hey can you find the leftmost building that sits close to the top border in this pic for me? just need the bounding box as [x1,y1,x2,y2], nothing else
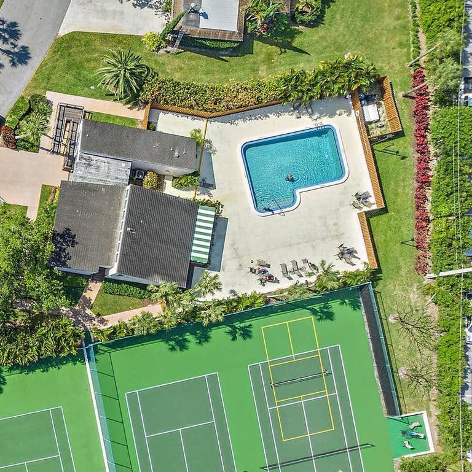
[170,0,246,43]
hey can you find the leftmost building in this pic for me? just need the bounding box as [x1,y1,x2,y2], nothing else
[51,119,199,288]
